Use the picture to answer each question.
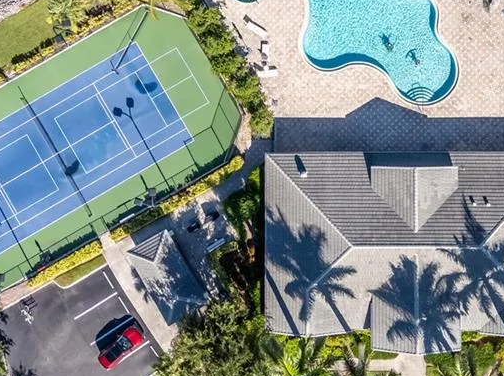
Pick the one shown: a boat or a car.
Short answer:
car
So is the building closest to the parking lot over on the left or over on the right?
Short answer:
left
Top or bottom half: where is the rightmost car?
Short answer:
bottom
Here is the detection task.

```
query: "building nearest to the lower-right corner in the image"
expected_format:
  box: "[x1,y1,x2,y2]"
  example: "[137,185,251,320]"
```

[264,152,504,358]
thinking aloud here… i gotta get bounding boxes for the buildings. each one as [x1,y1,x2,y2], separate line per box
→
[264,152,504,358]
[126,229,210,324]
